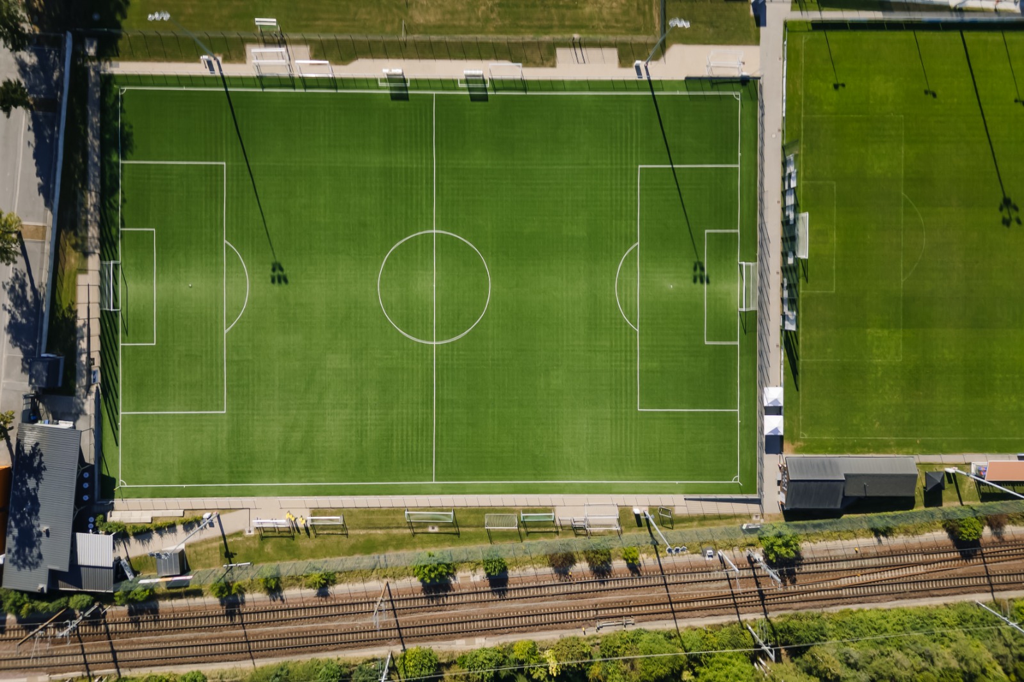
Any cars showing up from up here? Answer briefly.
No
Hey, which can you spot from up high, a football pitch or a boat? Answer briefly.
football pitch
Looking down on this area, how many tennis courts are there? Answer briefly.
none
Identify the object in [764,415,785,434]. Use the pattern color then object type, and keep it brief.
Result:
white tent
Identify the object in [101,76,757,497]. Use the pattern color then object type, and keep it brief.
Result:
green soccer field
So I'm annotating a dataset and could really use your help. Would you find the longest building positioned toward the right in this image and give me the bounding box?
[782,455,918,509]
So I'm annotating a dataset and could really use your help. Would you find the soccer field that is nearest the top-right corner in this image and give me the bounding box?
[781,20,1024,456]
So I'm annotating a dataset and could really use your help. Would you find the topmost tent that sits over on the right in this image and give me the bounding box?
[763,386,785,405]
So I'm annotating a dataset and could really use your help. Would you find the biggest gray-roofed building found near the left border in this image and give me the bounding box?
[1,422,95,593]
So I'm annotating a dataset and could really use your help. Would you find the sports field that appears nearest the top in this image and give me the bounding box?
[125,0,662,40]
